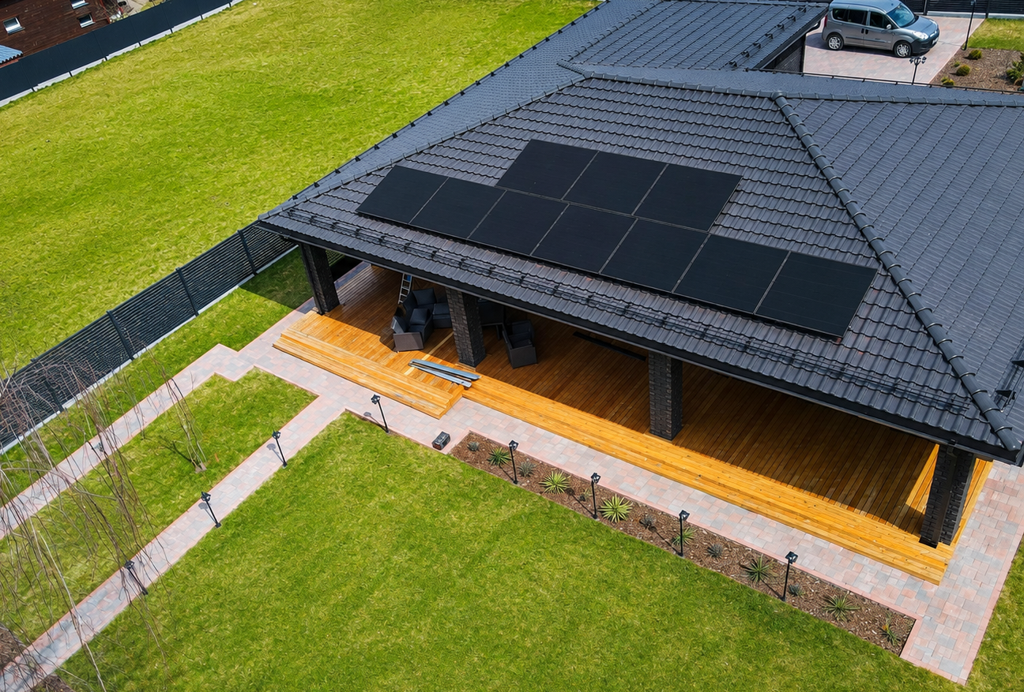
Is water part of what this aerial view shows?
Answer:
No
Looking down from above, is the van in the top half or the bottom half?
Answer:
top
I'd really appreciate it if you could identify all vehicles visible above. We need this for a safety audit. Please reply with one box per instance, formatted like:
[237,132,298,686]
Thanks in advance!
[816,0,942,56]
